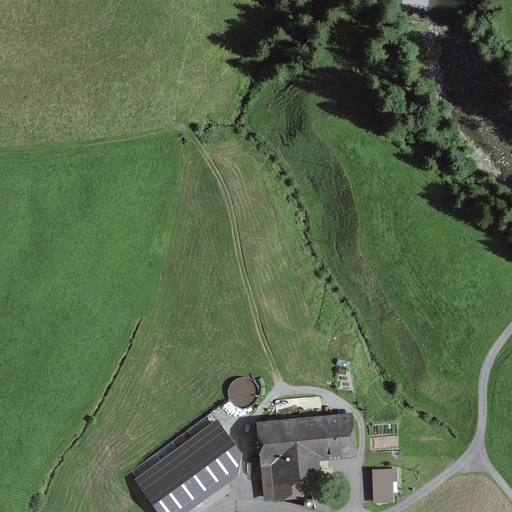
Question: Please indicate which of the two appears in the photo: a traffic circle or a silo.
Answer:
silo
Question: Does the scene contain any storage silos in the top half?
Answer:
No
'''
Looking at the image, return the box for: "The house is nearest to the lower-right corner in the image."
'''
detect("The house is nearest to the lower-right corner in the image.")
[372,467,401,506]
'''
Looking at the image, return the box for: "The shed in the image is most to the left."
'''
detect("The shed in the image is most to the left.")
[136,421,242,512]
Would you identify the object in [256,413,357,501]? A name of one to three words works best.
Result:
house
